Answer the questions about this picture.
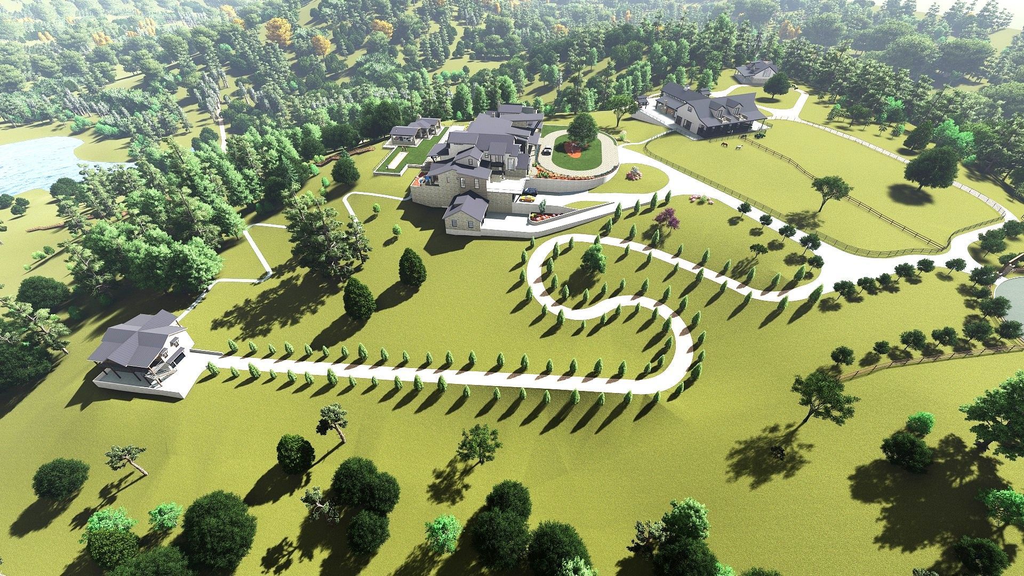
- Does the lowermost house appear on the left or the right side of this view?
left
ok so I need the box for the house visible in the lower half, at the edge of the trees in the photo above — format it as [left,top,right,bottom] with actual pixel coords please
[86,308,195,387]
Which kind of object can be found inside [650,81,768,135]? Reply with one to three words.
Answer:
barn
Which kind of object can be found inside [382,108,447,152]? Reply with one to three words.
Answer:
building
